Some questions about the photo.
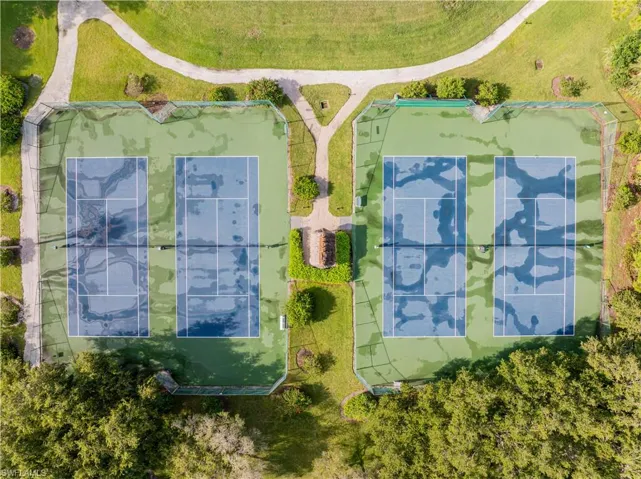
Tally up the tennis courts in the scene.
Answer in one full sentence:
I count 4 tennis courts.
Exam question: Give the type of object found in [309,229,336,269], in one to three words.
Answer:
shed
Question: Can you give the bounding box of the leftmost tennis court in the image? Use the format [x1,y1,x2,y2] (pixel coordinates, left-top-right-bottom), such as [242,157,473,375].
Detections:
[66,157,150,337]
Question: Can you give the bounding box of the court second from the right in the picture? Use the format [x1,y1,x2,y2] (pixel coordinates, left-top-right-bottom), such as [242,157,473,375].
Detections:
[383,156,467,337]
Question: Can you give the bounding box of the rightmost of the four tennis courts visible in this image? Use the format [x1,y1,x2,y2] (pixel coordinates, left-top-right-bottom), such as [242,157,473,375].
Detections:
[494,157,577,336]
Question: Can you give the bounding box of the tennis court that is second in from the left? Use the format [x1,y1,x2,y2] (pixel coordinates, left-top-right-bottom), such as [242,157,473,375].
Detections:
[175,157,260,337]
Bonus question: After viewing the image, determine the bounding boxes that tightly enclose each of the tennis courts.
[383,156,467,337]
[175,157,260,337]
[66,157,150,337]
[494,157,577,336]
